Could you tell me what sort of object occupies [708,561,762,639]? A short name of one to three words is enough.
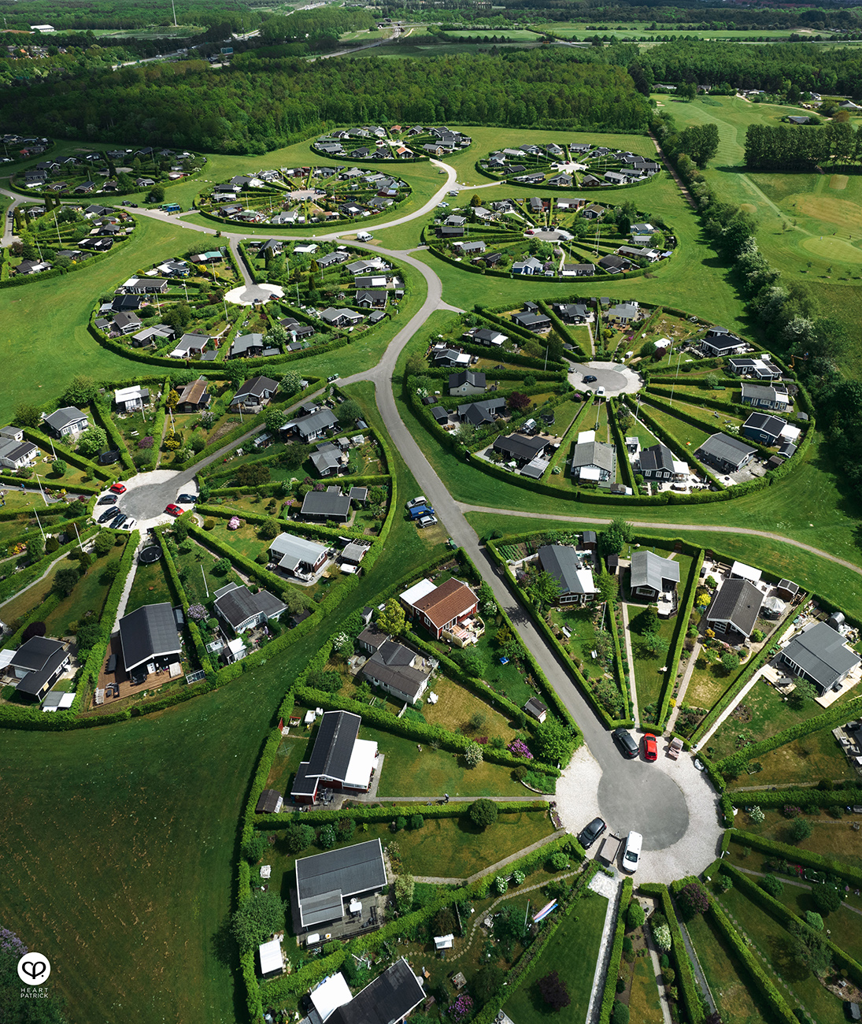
house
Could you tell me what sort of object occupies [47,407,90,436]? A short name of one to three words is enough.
house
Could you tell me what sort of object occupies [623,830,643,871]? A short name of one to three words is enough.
vehicle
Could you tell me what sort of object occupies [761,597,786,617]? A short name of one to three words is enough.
gazebo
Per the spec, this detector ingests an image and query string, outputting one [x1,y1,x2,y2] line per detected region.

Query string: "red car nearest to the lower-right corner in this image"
[643,733,659,761]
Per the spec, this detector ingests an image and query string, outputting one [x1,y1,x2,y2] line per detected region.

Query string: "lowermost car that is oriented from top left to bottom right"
[615,729,641,759]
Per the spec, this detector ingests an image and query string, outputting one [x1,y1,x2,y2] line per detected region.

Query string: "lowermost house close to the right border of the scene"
[780,631,860,688]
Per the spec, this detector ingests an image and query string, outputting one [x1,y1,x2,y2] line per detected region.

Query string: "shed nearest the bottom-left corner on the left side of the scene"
[259,939,283,977]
